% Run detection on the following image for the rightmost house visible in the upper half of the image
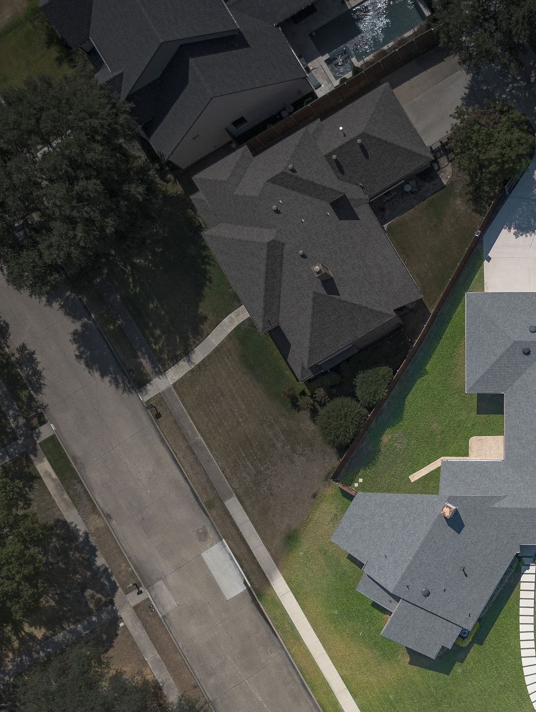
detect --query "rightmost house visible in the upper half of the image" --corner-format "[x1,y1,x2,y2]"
[191,82,433,383]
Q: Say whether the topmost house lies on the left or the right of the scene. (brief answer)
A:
left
